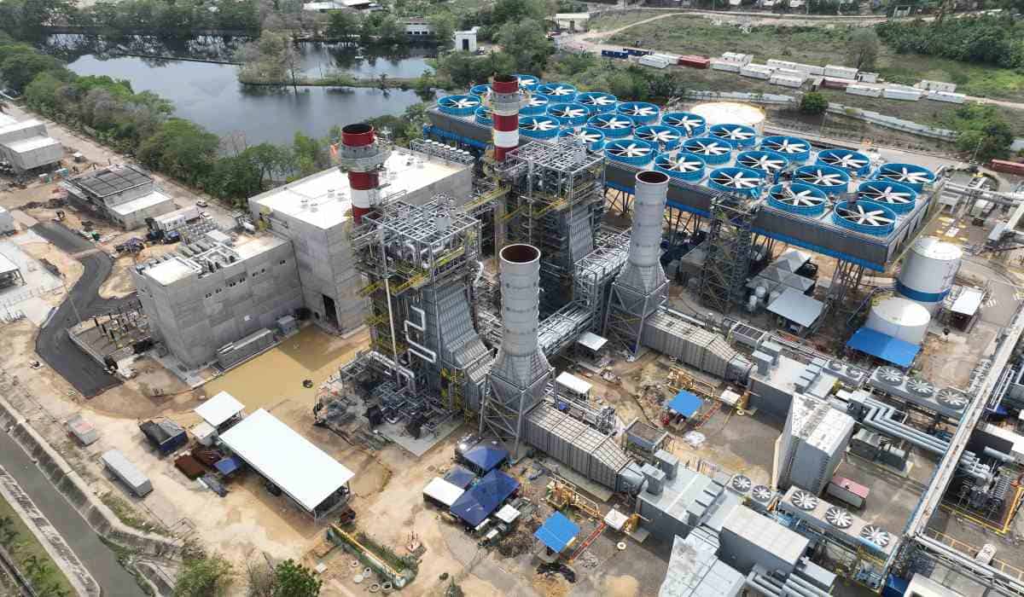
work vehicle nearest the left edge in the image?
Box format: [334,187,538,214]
[49,203,68,223]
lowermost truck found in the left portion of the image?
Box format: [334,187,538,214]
[330,501,363,528]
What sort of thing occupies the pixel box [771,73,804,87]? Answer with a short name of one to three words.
building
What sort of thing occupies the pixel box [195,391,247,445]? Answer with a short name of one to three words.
shed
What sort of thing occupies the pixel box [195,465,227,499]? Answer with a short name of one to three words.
truck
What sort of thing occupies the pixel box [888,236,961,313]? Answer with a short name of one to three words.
storage tank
